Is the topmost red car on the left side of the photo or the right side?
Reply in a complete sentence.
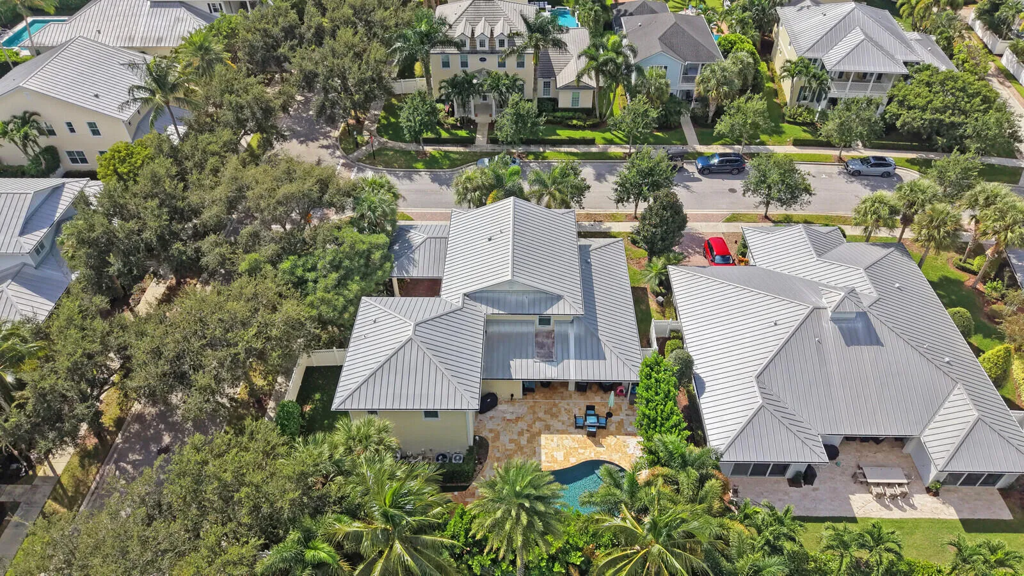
It is on the right.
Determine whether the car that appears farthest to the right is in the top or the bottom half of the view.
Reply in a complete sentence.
You can find the car that appears farthest to the right in the top half.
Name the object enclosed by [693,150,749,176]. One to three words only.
car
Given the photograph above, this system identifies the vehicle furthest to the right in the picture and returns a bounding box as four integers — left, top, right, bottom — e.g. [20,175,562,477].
[841,154,900,180]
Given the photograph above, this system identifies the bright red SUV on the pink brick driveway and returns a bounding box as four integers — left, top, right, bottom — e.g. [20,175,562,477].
[700,232,736,266]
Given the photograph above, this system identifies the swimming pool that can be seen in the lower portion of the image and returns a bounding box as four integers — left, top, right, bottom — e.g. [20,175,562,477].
[540,453,638,510]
